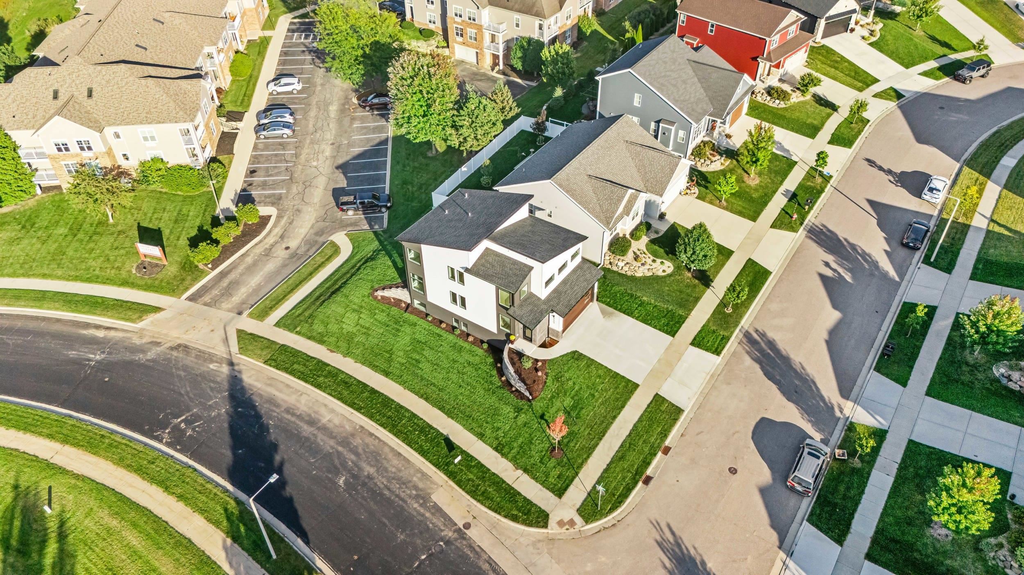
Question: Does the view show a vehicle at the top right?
Yes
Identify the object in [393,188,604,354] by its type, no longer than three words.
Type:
house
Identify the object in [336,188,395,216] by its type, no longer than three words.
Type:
truck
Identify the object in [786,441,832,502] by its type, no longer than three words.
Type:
car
